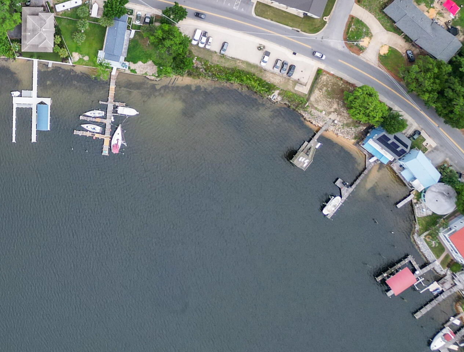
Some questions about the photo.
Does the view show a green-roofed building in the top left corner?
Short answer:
No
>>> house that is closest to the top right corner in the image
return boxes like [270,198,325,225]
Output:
[381,0,462,61]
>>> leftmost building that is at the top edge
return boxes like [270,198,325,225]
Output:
[22,8,55,53]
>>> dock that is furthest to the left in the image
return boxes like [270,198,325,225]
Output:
[11,59,52,142]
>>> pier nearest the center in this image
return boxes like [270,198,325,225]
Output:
[290,117,335,171]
